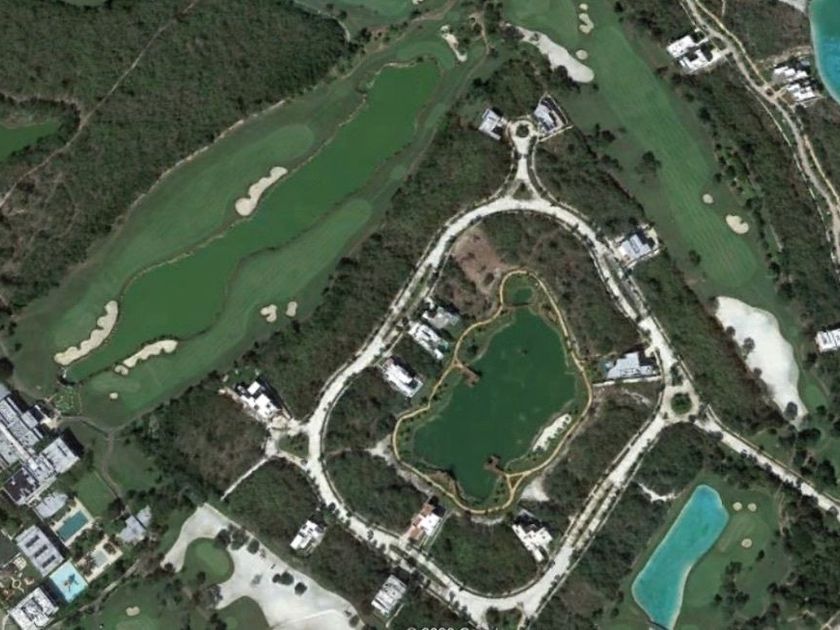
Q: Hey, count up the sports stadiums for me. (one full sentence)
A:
The photo contains no sports stadiums.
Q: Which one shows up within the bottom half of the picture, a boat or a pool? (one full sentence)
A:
What appears within the bottom half of the picture is a pool.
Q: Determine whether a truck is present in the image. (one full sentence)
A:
No, no truck can be seen from above.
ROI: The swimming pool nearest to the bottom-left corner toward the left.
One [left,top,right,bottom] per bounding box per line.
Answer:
[50,562,88,603]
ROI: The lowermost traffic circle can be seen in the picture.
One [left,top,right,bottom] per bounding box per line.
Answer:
[662,386,700,422]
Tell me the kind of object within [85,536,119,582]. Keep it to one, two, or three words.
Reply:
swimming pool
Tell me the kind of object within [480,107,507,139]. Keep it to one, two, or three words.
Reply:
house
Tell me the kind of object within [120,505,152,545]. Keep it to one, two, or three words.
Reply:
building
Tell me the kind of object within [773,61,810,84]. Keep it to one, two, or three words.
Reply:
house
